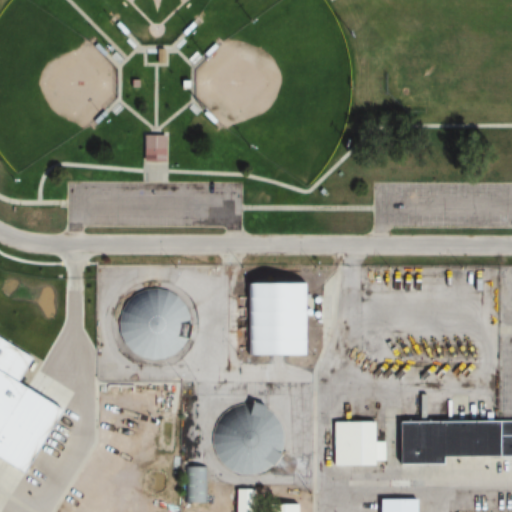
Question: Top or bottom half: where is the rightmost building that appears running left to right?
bottom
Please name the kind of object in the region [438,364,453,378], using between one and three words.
vehicle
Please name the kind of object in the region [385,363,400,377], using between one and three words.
vehicle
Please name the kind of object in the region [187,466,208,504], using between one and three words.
shed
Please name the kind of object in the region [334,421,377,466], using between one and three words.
building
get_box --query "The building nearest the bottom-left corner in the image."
[0,370,60,474]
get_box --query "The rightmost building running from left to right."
[402,421,503,464]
